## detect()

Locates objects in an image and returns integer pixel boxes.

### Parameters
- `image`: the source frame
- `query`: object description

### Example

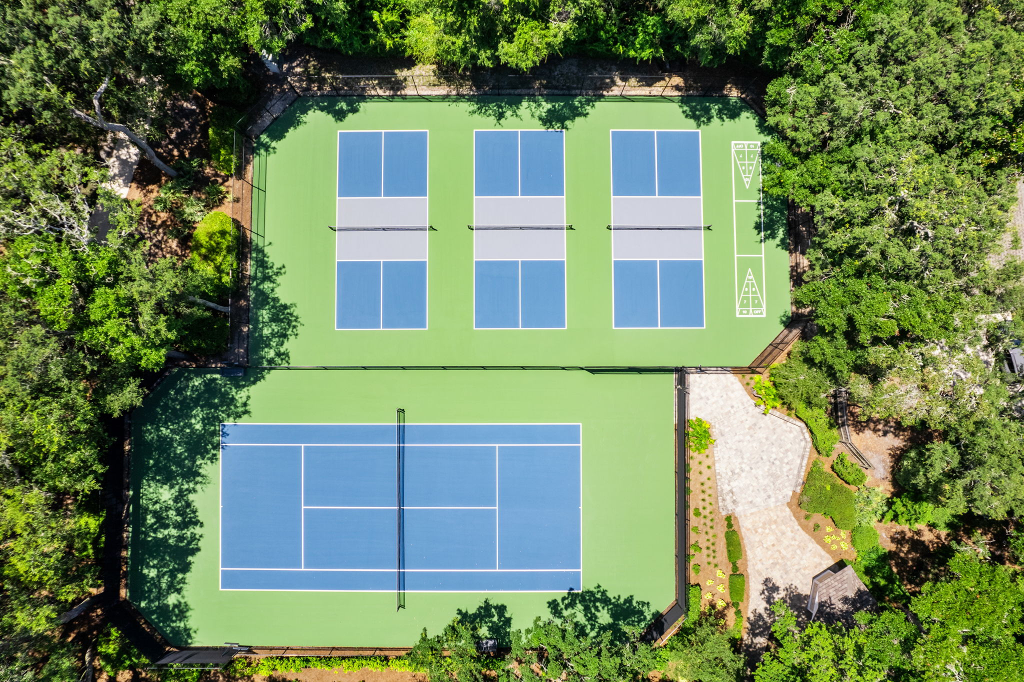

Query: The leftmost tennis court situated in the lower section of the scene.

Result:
[127,369,676,648]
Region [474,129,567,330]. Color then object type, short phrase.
blue sports court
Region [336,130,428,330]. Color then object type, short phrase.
blue sports court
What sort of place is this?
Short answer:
sports ground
